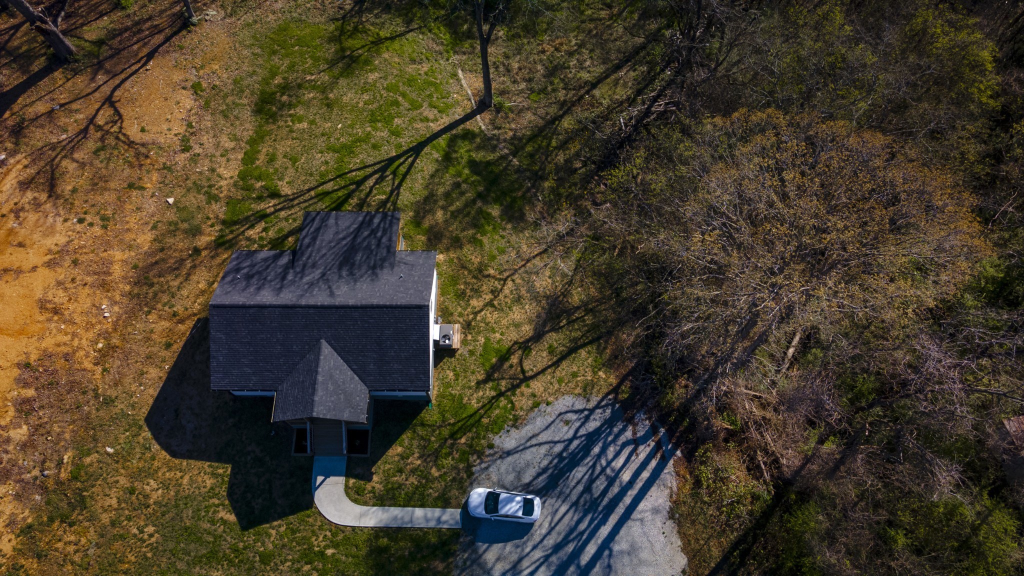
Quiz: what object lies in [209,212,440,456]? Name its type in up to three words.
house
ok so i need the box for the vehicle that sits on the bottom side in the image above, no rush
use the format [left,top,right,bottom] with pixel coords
[468,485,541,523]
